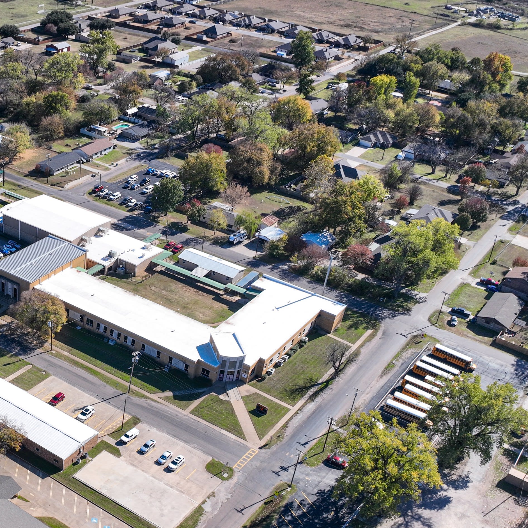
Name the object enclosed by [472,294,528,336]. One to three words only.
house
